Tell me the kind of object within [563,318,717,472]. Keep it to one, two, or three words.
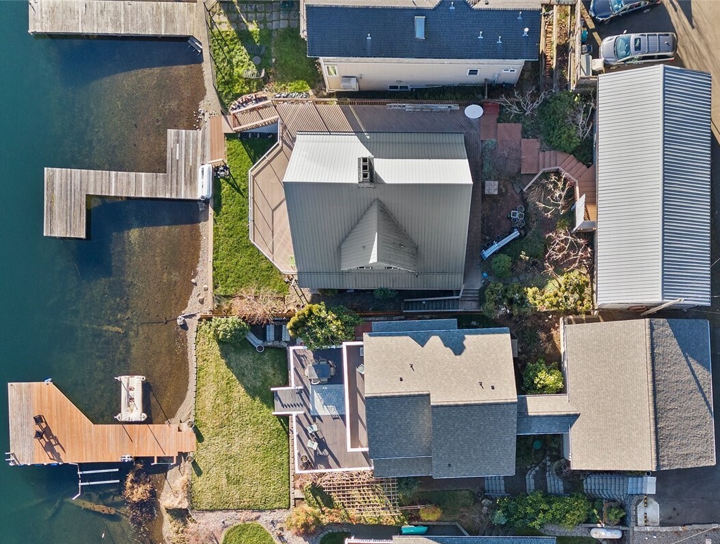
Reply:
building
